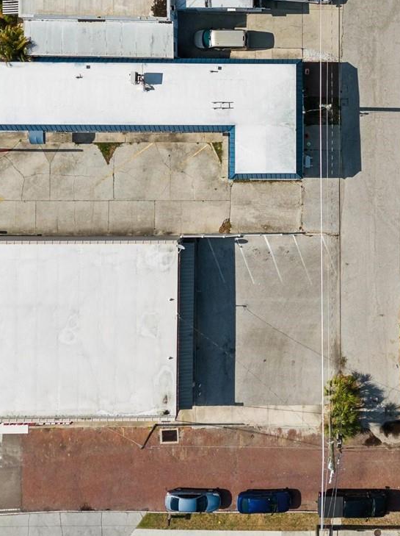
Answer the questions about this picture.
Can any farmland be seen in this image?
No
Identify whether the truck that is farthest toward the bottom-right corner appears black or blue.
black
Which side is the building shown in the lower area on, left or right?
left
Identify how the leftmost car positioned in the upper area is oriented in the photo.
horizontally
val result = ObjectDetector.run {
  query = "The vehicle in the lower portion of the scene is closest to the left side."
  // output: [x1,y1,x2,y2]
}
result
[164,489,220,518]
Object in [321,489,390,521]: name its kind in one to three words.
truck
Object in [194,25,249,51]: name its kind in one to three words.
car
